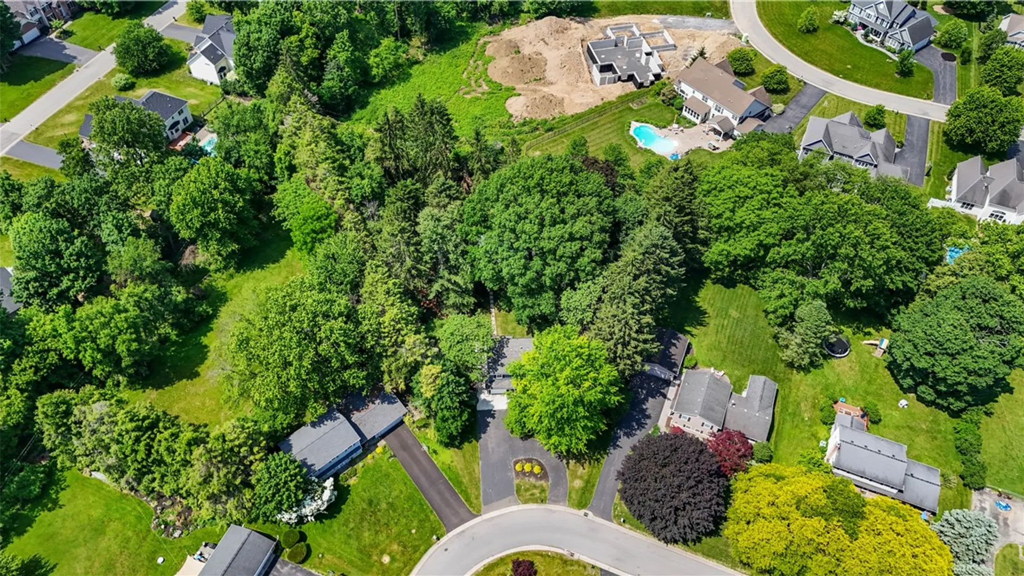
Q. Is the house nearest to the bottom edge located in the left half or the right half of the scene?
left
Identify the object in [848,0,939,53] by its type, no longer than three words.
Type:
house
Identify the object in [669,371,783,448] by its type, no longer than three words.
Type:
house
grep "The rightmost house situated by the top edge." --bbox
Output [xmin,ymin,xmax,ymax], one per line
[995,13,1024,52]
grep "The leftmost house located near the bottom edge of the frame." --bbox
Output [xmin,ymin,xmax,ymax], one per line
[195,524,275,576]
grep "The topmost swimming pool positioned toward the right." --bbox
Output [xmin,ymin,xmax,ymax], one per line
[633,123,676,152]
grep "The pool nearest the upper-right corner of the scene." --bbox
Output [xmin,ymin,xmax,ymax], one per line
[939,242,970,265]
